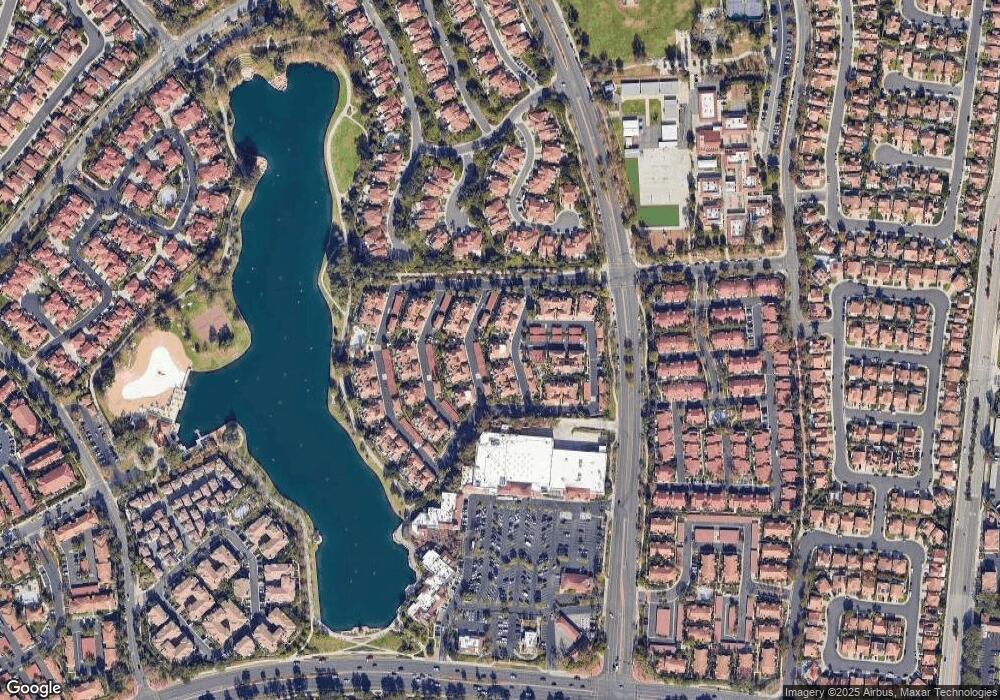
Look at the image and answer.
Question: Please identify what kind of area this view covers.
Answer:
residential area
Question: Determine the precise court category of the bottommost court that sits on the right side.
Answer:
basketball court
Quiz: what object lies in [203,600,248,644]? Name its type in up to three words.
building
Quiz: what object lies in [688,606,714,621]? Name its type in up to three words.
building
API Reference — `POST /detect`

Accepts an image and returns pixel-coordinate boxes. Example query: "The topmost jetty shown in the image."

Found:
[146,367,190,423]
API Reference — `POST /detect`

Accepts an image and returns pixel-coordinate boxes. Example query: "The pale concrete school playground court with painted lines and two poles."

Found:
[640,148,688,205]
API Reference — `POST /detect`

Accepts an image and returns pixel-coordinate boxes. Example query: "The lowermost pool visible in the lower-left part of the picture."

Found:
[16,576,40,602]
